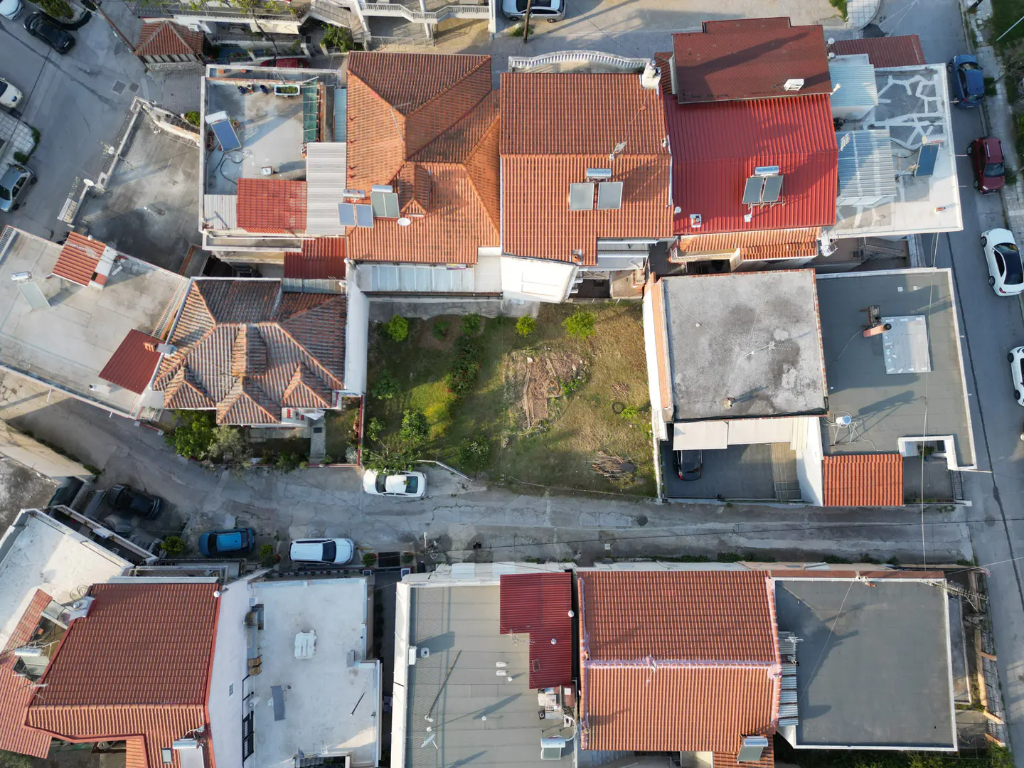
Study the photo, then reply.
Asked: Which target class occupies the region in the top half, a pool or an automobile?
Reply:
automobile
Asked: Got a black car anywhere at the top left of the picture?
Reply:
Yes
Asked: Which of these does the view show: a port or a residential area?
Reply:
residential area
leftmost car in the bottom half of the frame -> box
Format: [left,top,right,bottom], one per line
[103,481,168,522]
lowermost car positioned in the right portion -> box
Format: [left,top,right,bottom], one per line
[673,450,700,485]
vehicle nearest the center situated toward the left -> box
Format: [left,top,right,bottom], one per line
[361,468,428,499]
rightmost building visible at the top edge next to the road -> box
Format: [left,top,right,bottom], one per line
[809,34,970,269]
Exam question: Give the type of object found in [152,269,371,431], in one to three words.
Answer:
house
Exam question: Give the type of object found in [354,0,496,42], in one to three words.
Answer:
house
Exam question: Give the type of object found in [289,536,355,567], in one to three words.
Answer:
car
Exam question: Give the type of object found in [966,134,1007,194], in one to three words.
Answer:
car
